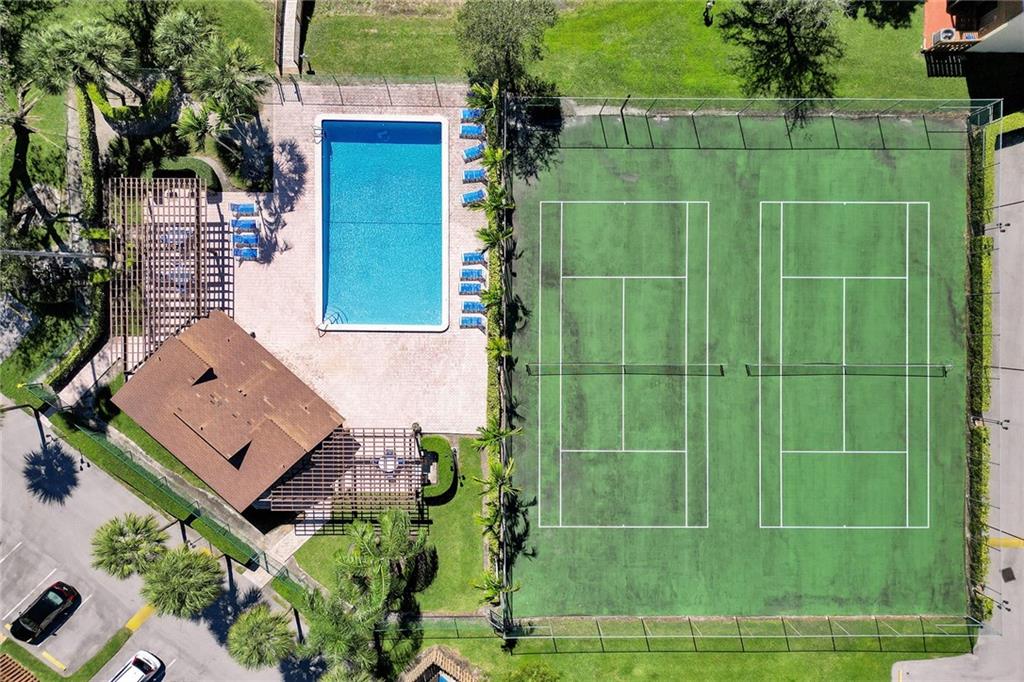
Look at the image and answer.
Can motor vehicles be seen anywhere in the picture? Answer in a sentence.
Yes, a motor vehicle can be made out from above.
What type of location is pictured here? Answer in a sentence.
What you see here is a sports ground.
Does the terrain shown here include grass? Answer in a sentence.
Yes, grass can be seen from above here.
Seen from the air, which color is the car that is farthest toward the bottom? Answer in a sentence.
The color of the car that is farthest toward the bottom is white.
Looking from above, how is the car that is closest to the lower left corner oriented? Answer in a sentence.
The car that is closest to the lower left corner is laid out diagonally.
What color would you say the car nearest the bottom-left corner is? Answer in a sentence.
The color of the car nearest the bottom-left corner is black.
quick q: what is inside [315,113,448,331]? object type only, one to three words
swimming pool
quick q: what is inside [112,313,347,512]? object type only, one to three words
building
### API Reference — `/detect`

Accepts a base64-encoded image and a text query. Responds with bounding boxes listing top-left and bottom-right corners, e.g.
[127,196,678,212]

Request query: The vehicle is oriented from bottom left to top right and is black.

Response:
[8,579,77,649]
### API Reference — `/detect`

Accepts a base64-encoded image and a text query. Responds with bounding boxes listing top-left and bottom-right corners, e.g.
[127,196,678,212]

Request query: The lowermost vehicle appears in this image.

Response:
[108,649,160,682]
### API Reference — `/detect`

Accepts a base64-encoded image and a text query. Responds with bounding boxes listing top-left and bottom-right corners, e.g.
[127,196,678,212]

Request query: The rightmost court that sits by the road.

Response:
[734,113,967,616]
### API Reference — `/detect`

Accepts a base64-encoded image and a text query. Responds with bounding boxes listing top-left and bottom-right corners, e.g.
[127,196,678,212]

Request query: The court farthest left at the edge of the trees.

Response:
[513,113,734,616]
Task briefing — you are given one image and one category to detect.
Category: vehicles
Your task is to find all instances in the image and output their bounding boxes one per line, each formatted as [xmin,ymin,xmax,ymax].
[8,579,77,649]
[108,649,160,682]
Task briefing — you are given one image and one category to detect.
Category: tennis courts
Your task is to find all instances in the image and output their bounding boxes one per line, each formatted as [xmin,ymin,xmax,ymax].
[513,113,734,616]
[734,113,967,616]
